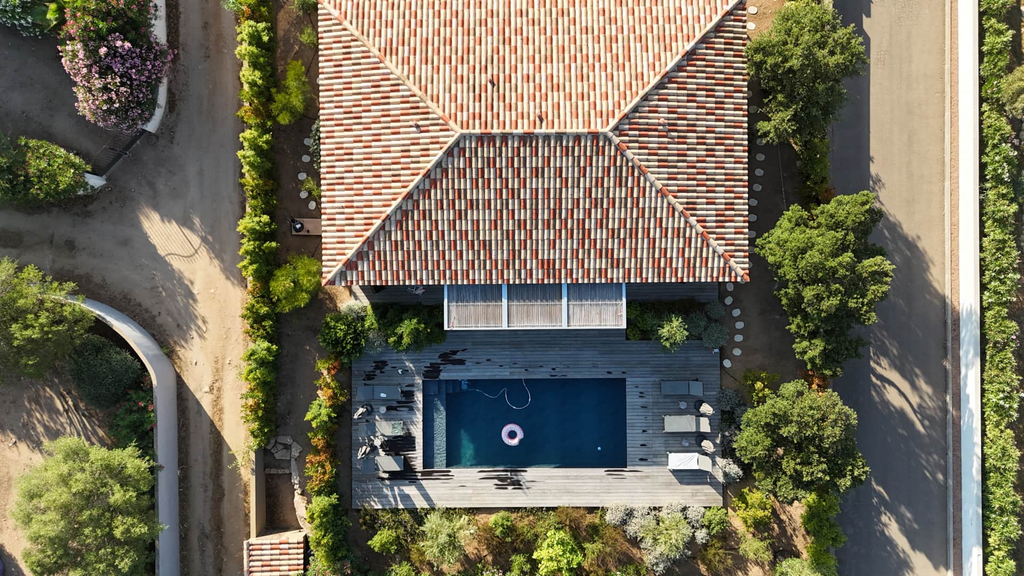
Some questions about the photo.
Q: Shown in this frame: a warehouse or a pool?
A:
pool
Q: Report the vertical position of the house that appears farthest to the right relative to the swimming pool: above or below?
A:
above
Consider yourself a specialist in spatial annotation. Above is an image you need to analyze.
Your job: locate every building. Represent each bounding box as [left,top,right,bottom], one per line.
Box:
[319,0,752,285]
[241,524,318,576]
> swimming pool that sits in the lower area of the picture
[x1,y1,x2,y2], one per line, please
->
[423,379,626,468]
